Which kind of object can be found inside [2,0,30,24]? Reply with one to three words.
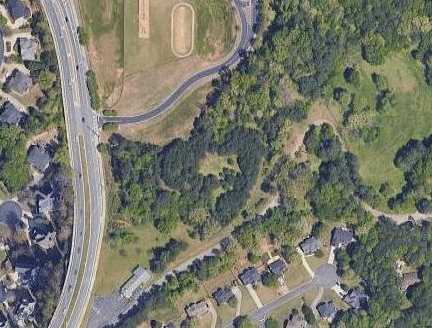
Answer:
house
